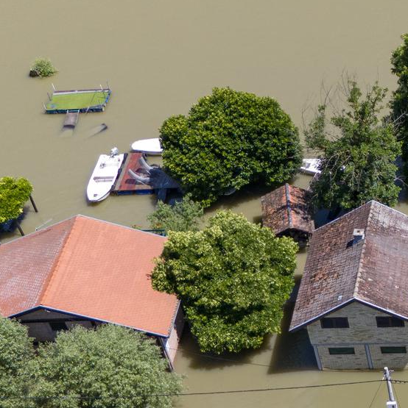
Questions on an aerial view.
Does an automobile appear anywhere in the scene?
No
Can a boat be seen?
Yes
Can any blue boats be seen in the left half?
No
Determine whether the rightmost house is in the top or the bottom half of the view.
bottom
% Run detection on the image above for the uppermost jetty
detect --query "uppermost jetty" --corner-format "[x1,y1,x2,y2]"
[114,152,188,196]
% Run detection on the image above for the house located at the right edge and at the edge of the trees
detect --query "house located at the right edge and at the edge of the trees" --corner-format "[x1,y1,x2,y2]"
[291,198,408,372]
